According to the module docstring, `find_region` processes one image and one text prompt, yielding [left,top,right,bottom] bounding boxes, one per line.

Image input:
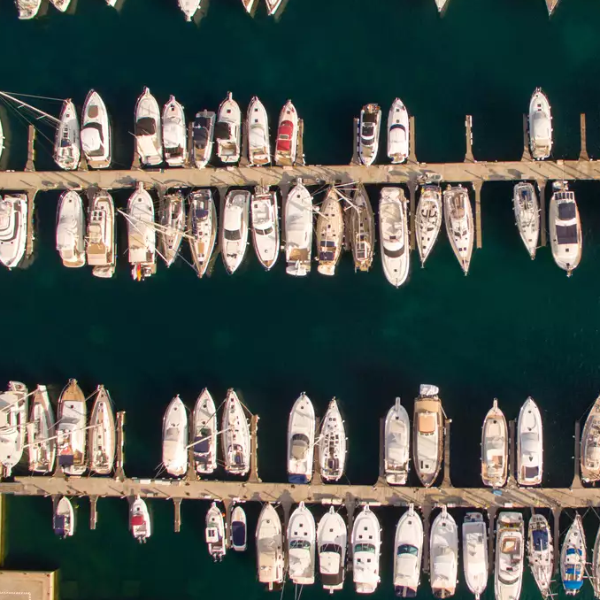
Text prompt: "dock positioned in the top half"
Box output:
[0,113,600,258]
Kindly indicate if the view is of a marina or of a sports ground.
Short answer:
marina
